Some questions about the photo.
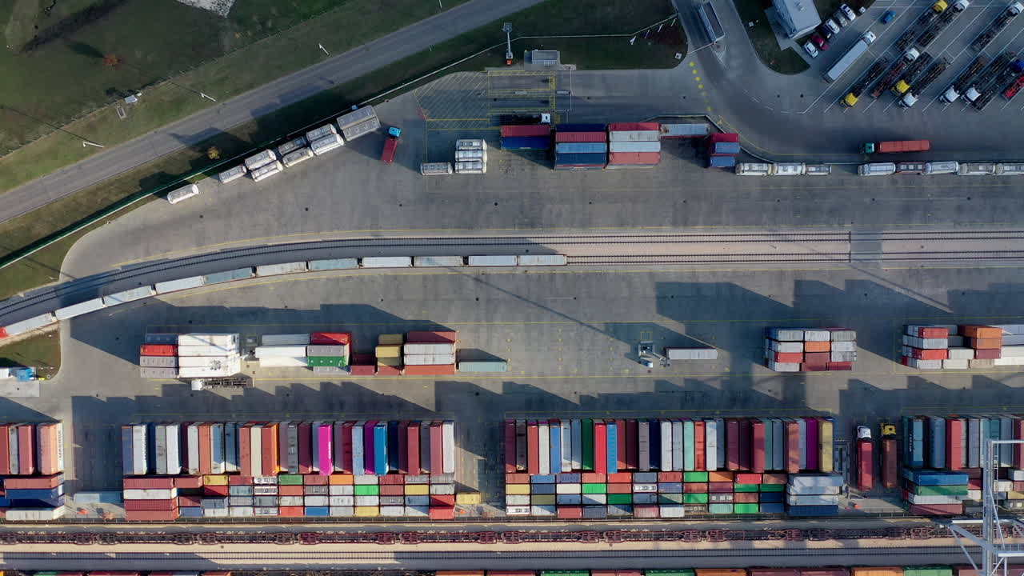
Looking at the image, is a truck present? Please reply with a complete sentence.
Yes, you can see a truck in this photo.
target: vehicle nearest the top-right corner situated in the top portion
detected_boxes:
[966,1,1024,56]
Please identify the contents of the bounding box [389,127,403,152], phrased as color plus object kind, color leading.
blue vehicle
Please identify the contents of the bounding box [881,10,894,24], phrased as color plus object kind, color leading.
blue vehicle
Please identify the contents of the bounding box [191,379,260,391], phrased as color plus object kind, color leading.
white vehicle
